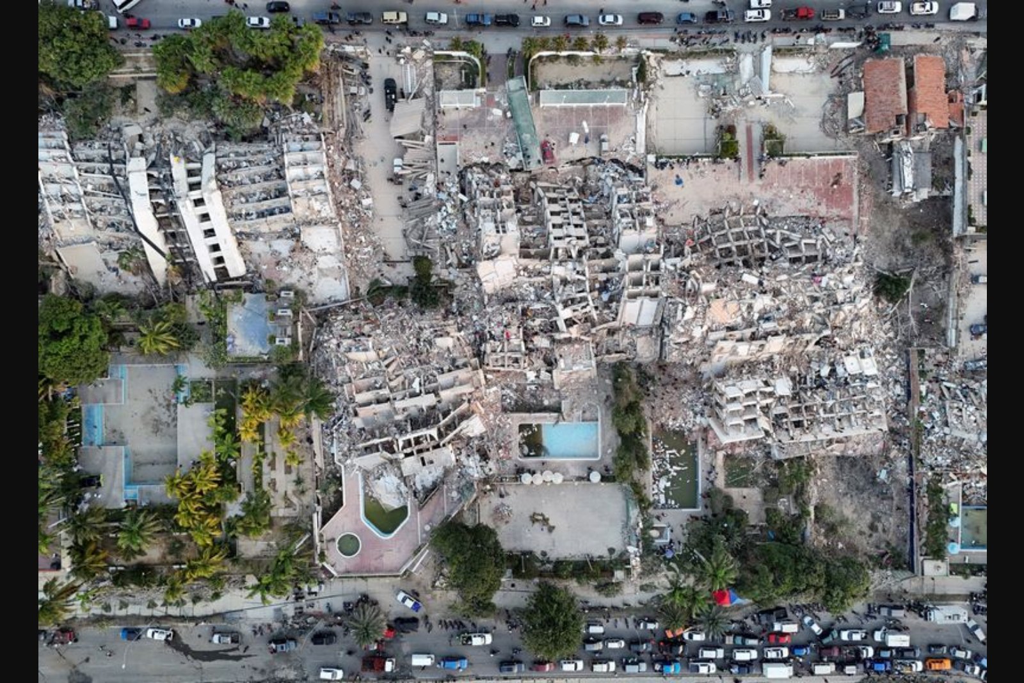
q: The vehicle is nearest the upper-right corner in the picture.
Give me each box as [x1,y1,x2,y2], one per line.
[944,4,977,21]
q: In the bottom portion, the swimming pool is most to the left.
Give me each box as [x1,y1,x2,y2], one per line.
[80,363,188,503]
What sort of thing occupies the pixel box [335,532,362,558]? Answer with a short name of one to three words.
swimming pool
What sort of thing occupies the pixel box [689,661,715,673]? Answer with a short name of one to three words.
vehicle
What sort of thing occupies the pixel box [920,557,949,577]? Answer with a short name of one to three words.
shed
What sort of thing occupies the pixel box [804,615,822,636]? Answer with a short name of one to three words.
car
